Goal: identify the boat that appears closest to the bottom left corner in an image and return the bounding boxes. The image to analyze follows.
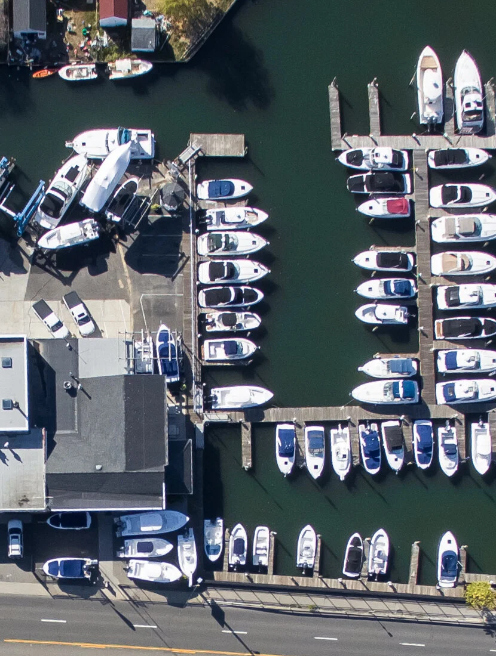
[43,559,104,579]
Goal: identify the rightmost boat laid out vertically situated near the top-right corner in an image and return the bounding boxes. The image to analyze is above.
[451,46,484,135]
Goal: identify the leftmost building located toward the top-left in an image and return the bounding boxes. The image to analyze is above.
[12,0,46,40]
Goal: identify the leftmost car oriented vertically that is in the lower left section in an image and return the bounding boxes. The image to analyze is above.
[6,521,23,558]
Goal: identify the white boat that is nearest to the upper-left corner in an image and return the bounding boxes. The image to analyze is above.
[59,63,101,81]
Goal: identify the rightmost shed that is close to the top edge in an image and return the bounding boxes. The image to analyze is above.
[131,11,158,52]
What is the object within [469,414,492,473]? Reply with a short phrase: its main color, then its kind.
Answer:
white boat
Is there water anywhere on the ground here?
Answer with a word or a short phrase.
Yes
